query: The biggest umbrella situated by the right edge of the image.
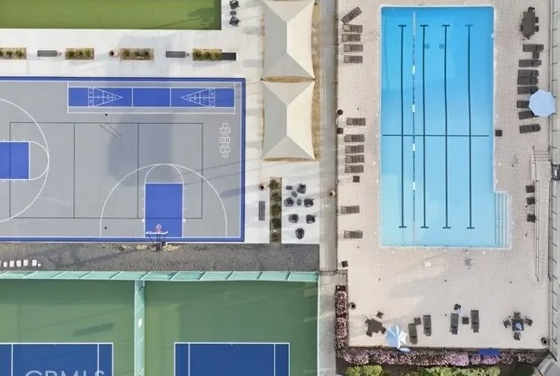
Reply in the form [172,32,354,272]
[528,90,555,116]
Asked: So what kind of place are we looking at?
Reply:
sports ground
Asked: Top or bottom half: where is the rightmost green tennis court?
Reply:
bottom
